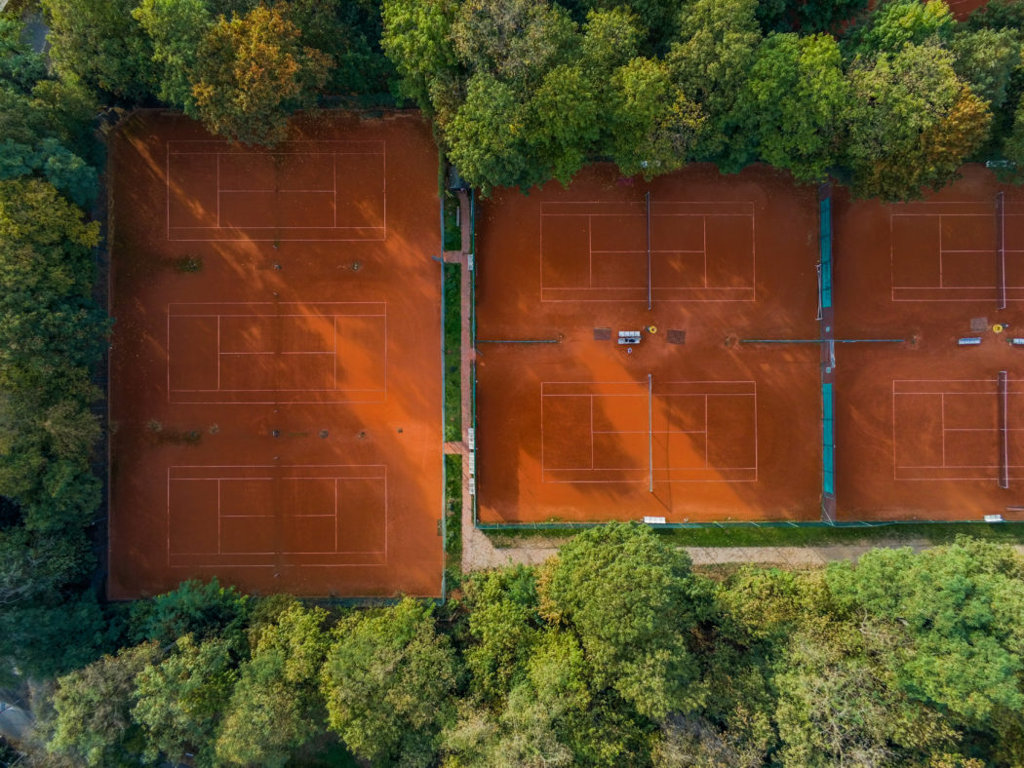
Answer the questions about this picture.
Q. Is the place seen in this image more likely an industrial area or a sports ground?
sports ground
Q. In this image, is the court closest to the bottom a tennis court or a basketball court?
tennis court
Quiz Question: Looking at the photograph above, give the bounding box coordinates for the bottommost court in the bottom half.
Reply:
[108,434,446,599]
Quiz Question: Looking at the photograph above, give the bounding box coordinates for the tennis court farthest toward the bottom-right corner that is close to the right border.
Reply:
[836,341,1024,521]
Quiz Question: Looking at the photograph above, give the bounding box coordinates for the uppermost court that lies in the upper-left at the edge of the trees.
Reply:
[108,109,445,272]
